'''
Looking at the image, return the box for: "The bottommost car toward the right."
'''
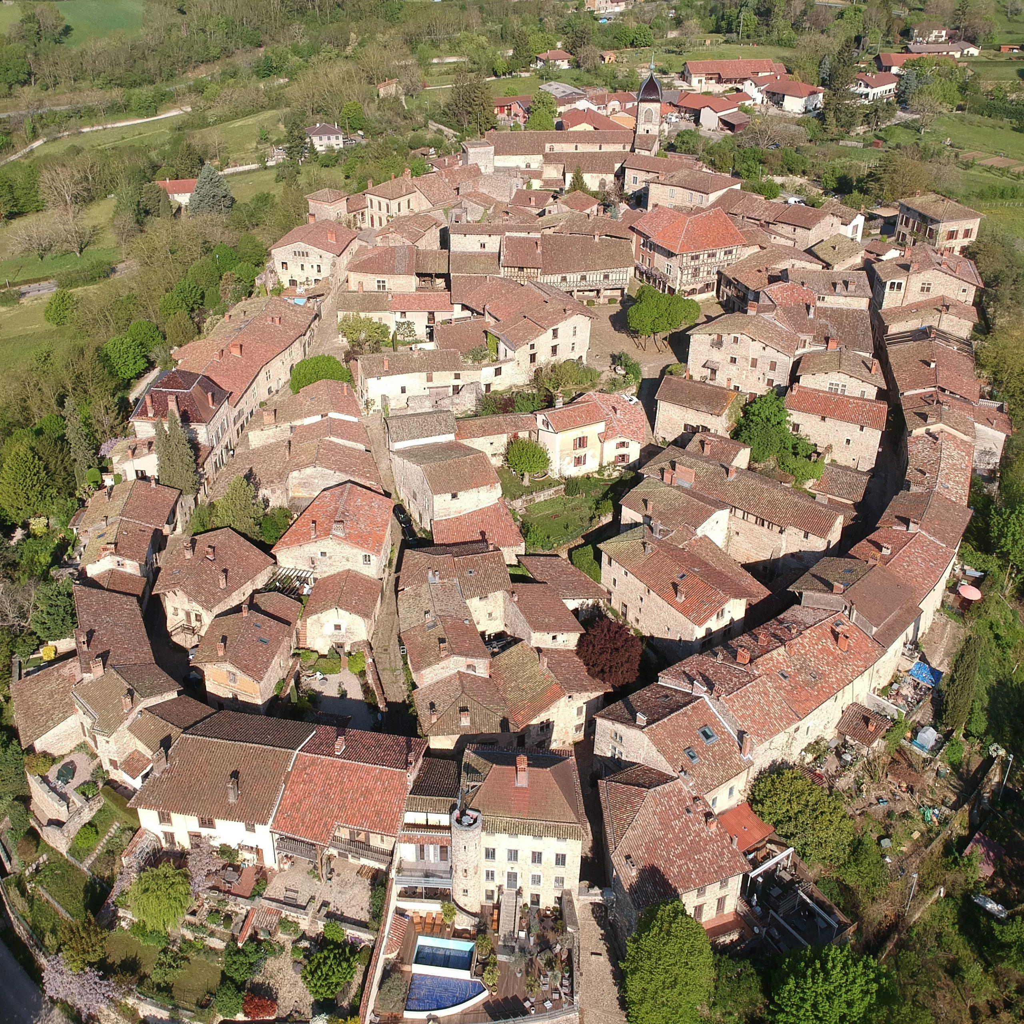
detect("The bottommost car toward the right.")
[617,390,643,402]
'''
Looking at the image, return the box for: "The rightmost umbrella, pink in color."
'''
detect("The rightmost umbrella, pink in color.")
[956,584,984,607]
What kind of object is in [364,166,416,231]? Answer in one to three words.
house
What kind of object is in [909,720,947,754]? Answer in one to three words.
greenhouse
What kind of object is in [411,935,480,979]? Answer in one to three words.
swimming pool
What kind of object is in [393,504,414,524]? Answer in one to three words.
car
